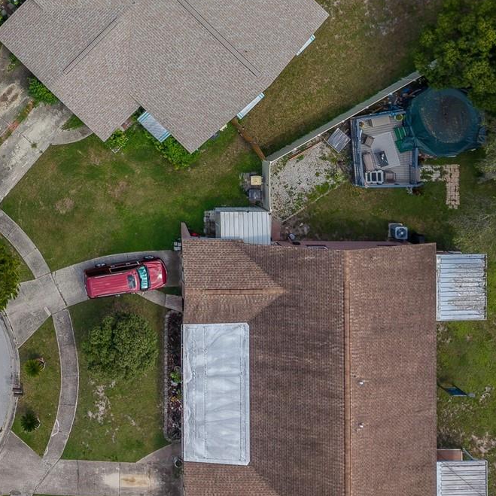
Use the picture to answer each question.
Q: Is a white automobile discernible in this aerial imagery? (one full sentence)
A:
No, the picture doesn't show any white automobile.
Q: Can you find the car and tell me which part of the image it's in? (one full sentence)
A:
Look in the left portion of the view to spot the car.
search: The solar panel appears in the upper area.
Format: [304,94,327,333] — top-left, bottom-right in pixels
[328,128,353,152]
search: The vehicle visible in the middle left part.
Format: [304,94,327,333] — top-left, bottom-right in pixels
[82,255,167,299]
